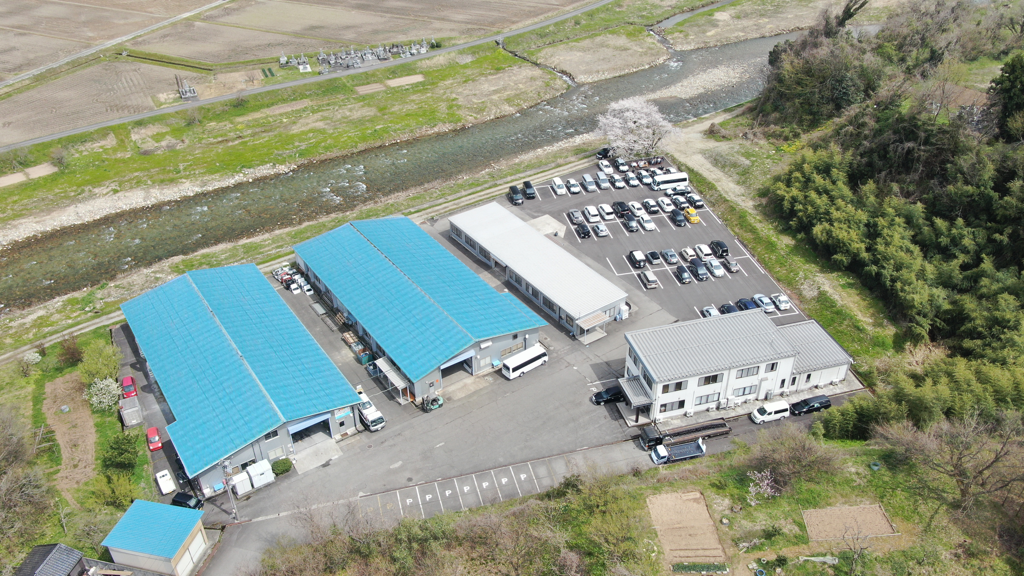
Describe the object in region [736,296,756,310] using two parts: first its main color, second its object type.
blue car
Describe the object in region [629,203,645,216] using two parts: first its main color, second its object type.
white vehicle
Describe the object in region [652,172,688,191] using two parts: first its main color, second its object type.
white vehicle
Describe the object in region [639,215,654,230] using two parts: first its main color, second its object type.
white car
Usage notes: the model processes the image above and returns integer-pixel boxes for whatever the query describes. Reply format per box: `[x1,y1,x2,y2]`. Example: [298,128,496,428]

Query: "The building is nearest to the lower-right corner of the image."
[616,306,859,421]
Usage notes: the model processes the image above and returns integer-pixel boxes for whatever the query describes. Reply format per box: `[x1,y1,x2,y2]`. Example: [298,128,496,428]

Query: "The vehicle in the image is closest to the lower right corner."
[789,395,834,416]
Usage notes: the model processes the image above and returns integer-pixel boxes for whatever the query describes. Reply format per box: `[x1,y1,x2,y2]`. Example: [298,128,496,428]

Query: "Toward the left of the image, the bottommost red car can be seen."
[145,426,164,454]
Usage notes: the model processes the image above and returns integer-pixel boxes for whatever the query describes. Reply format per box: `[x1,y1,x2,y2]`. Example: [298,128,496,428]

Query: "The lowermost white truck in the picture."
[153,467,177,498]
